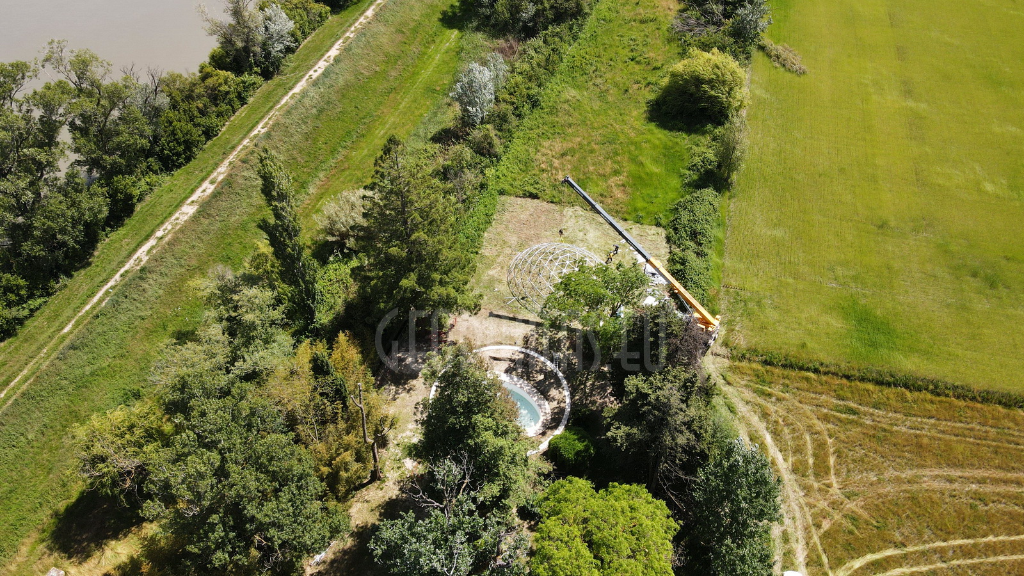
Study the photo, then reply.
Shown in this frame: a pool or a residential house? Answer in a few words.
pool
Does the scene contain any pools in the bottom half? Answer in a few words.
Yes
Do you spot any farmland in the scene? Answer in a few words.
Yes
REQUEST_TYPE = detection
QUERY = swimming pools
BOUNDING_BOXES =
[463,370,549,438]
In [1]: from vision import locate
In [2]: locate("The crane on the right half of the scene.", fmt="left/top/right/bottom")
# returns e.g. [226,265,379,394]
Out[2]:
[559,173,723,382]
